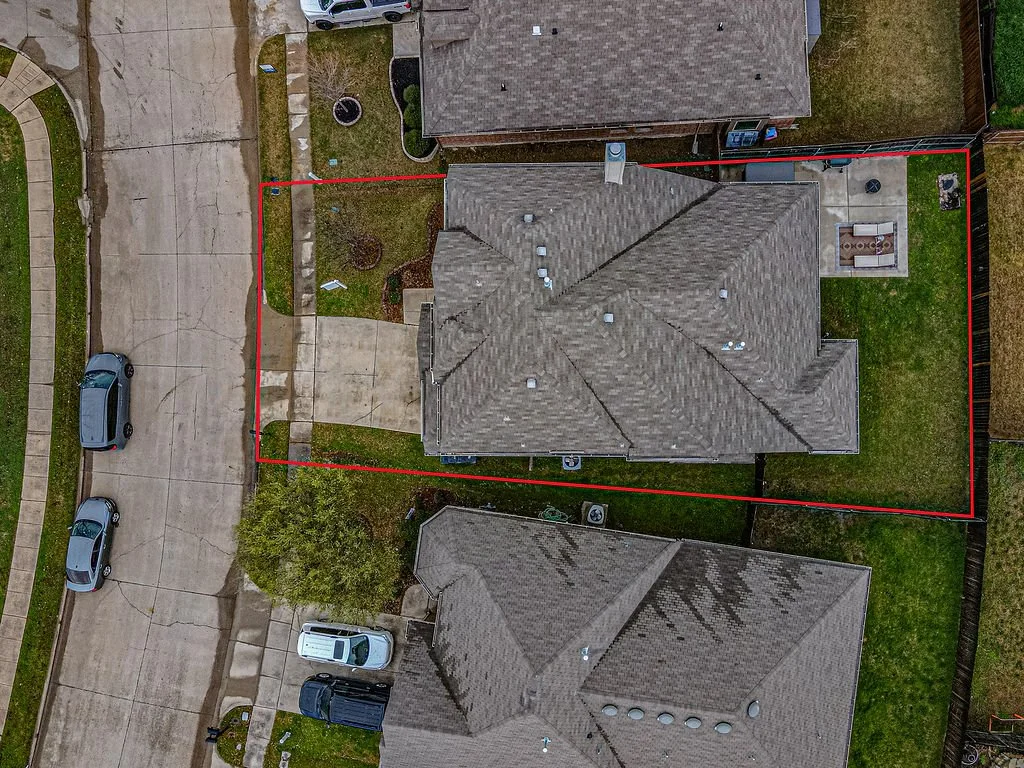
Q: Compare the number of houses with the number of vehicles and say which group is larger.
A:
vehicles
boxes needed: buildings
[417,141,861,464]
[420,0,812,148]
[381,505,873,768]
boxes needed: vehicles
[64,493,122,591]
[81,351,136,450]
[297,0,419,27]
[296,670,392,737]
[294,620,395,677]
